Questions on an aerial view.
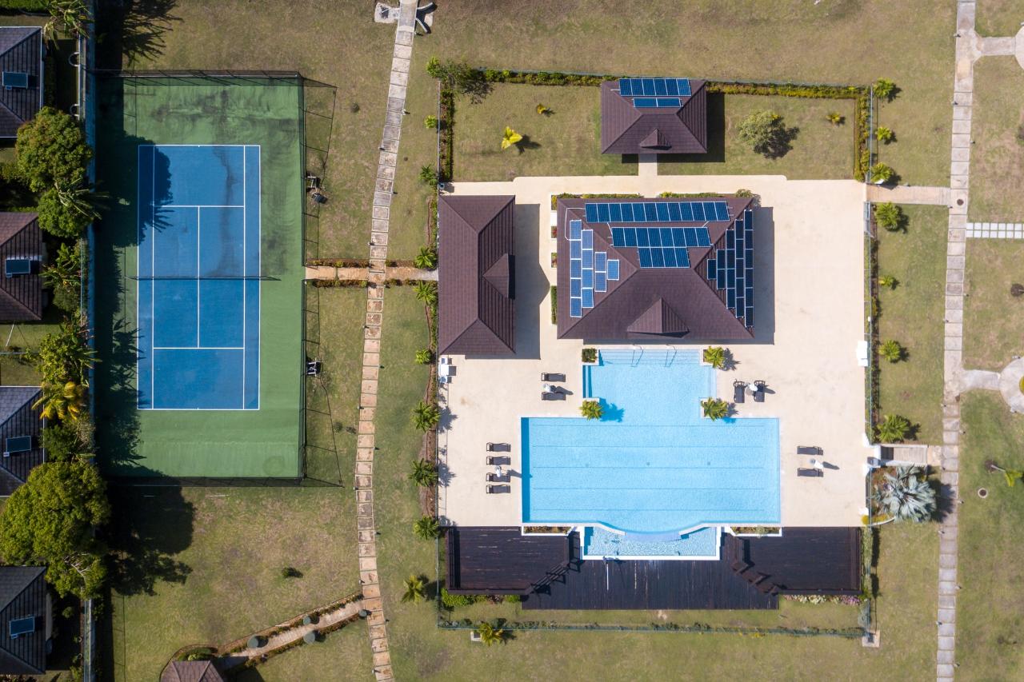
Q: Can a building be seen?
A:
Yes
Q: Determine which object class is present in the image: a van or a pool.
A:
pool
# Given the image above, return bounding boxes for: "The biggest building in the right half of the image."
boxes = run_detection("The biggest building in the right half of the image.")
[557,197,755,339]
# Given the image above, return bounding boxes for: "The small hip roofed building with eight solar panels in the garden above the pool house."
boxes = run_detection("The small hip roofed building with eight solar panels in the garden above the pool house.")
[601,78,707,154]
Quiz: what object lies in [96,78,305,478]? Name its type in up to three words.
tennis court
